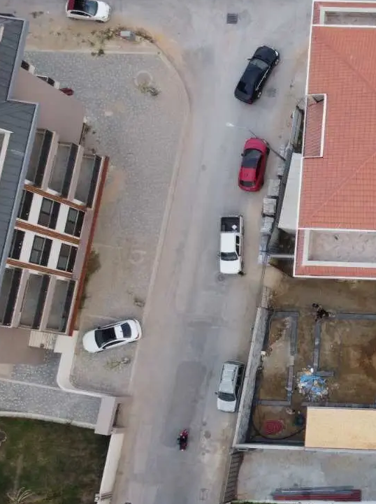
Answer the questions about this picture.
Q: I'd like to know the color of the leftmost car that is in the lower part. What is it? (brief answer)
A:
white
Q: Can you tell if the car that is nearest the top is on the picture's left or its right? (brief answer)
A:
left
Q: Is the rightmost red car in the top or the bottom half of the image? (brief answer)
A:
top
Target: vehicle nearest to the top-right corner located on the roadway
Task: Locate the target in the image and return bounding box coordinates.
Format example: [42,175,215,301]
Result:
[234,46,280,102]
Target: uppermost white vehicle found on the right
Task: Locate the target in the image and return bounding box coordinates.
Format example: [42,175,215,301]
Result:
[215,215,246,276]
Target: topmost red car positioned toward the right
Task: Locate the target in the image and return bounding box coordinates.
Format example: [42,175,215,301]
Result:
[239,138,270,190]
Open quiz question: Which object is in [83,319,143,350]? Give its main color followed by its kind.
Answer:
white car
